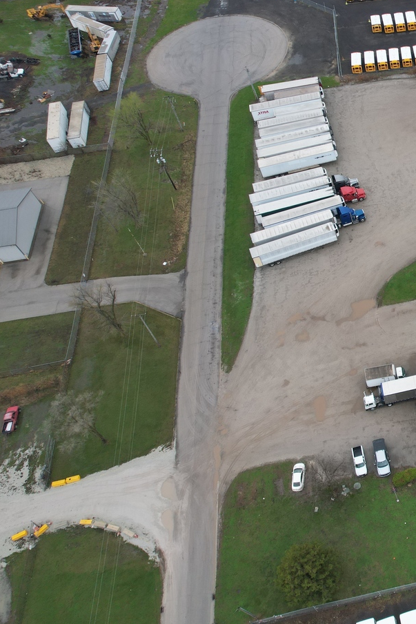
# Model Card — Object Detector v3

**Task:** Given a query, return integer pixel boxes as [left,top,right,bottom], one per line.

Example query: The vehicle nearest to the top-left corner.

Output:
[24,4,67,22]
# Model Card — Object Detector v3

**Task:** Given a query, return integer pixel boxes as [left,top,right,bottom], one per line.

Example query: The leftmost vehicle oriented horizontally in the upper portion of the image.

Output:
[0,70,24,82]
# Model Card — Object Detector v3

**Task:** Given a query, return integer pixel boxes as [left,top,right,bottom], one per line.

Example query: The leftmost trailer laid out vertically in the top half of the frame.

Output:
[47,102,66,150]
